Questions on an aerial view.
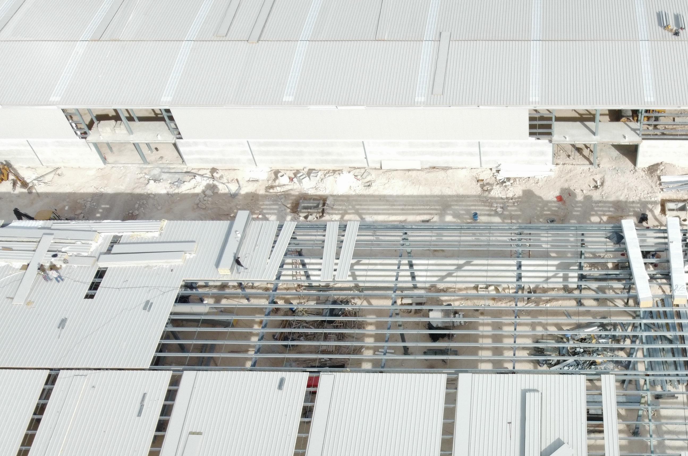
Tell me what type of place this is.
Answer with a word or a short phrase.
industrial area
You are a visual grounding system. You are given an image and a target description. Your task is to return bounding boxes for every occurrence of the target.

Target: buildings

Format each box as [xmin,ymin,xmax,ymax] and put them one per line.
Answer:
[0,0,688,168]
[0,220,688,456]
